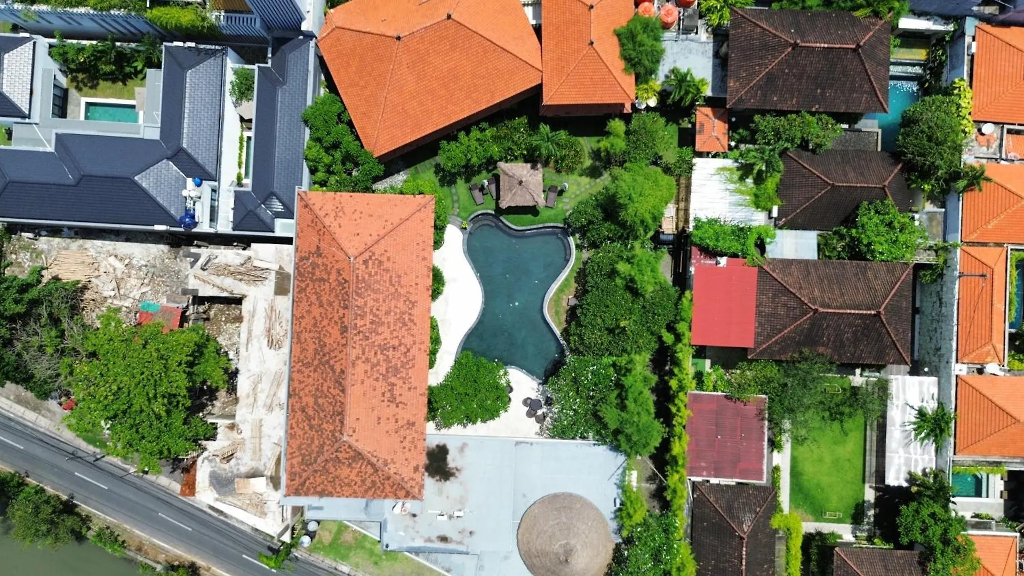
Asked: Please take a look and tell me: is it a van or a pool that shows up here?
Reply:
pool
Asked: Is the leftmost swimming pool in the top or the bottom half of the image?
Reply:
top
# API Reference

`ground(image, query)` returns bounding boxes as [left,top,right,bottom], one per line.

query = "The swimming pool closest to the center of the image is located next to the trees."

[457,209,575,388]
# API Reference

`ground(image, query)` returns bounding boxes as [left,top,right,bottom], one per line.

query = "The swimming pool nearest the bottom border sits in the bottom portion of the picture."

[953,474,1003,501]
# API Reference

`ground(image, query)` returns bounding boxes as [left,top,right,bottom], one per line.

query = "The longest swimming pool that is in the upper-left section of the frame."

[80,98,143,123]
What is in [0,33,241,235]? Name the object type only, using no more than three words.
house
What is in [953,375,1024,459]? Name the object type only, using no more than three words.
house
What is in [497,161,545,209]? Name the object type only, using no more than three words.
gazebo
